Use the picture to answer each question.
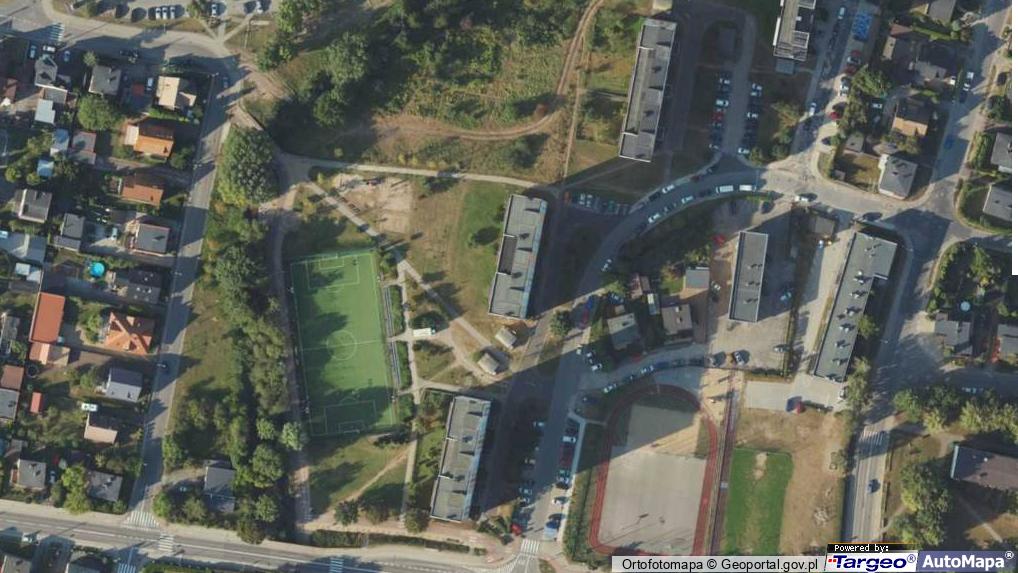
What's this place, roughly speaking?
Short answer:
residential area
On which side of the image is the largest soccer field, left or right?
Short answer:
left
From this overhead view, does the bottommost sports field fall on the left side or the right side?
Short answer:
right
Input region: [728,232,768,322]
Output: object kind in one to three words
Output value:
building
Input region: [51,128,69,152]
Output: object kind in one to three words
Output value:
house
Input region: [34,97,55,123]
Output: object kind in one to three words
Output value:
shed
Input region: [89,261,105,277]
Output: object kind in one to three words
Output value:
swimming pool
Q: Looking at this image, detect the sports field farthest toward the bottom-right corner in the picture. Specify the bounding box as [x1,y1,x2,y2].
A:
[723,449,793,562]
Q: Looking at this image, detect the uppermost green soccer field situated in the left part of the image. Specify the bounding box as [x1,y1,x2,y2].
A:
[290,250,395,437]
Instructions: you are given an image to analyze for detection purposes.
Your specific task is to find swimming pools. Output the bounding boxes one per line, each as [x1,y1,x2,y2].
[89,261,105,277]
[960,300,970,310]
